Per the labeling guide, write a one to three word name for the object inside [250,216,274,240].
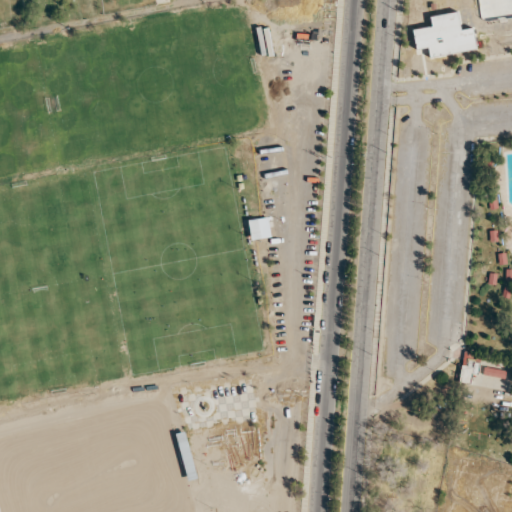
building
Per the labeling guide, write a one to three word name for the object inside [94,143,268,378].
soccer field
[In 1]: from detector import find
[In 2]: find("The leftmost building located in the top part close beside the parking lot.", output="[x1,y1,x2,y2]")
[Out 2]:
[414,11,478,58]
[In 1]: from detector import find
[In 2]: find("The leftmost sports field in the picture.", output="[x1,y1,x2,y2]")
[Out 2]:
[0,169,131,398]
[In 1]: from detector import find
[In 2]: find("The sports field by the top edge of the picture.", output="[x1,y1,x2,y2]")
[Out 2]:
[0,8,267,180]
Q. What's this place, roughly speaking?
sports ground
